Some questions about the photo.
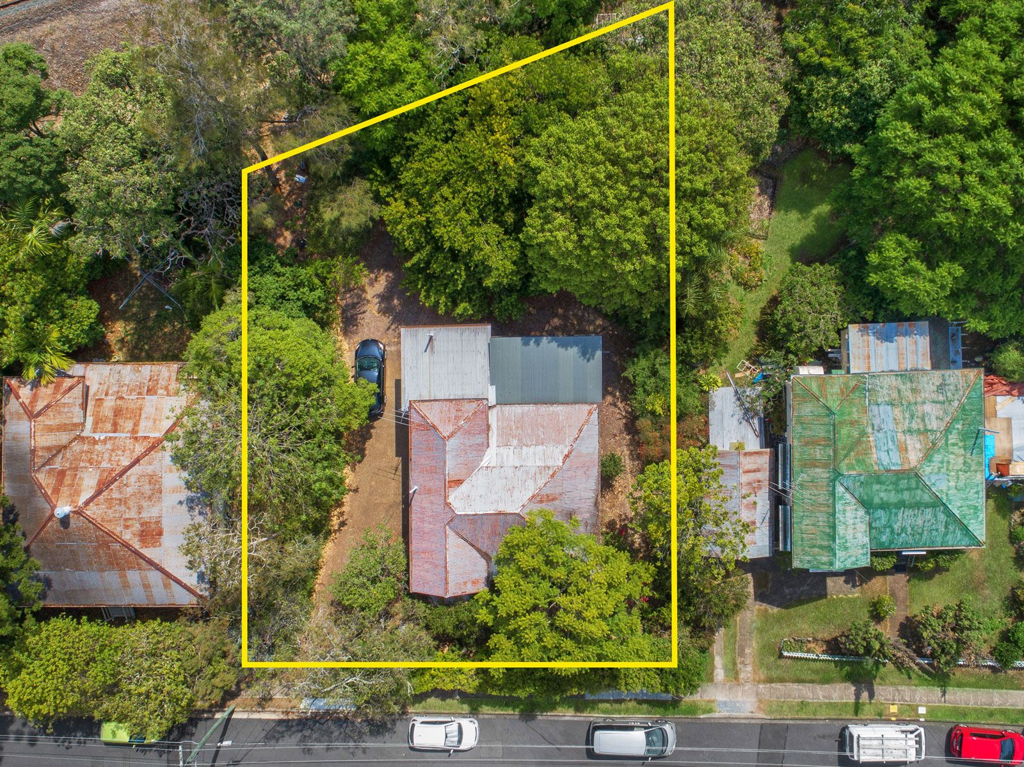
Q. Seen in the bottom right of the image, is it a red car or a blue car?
red car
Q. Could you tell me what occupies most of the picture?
trees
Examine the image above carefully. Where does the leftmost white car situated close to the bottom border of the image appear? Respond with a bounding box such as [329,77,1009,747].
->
[409,714,479,754]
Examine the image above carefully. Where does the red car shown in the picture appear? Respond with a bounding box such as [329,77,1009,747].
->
[952,722,1024,765]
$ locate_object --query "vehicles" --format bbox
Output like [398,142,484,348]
[839,721,926,765]
[588,714,675,758]
[952,722,1024,765]
[351,339,389,419]
[102,711,174,749]
[409,714,479,754]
